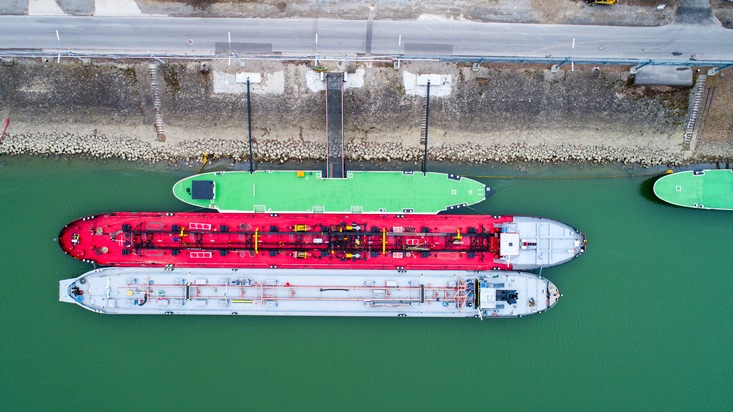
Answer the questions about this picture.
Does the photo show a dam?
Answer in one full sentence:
No, no dam is visible in the scene.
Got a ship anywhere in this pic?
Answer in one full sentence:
Yes, the picture does show a ship.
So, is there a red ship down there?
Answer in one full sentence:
Yes, the photo shows a red ship.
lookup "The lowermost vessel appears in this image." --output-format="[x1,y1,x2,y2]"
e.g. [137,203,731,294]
[59,268,564,318]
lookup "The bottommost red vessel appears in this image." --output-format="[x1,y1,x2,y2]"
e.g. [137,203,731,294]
[55,212,586,270]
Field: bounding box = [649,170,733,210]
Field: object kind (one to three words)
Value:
pier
